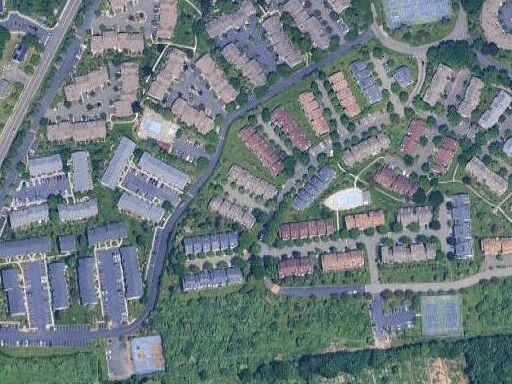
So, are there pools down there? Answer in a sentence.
Yes, the frame does contain a pool.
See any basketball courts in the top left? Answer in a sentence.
No, no basketball court is visible in the top left.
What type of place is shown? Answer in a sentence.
It's a residential area.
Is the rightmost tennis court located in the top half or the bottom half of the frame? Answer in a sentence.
The rightmost tennis court sits in the bottom half of the picture.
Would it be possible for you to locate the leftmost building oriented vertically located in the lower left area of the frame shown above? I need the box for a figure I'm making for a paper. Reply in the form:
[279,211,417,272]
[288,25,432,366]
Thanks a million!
[0,268,26,317]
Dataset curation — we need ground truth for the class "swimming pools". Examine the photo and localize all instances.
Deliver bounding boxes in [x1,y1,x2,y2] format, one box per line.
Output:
[325,188,363,210]
[139,109,178,145]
